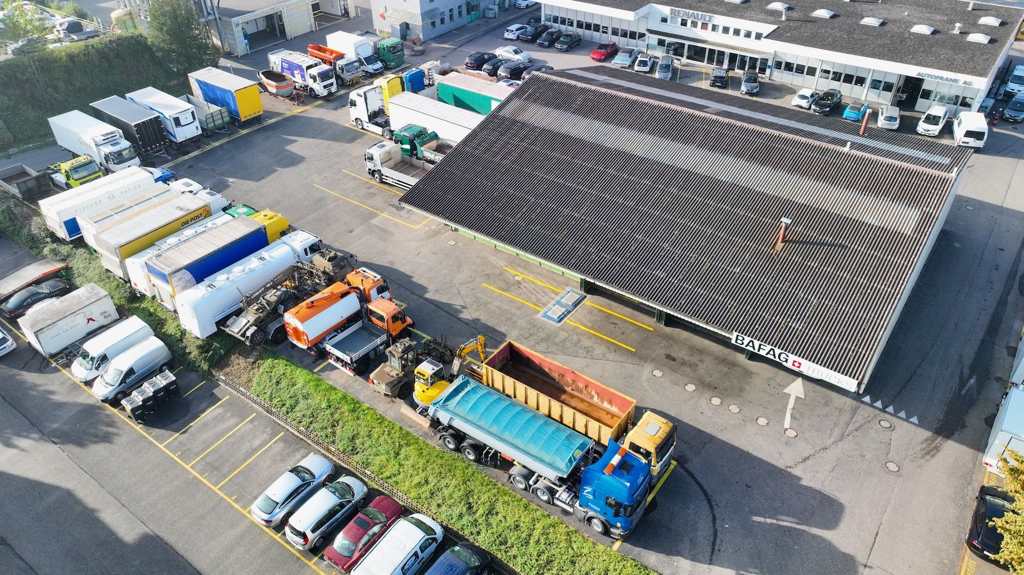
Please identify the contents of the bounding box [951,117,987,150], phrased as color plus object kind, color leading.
white van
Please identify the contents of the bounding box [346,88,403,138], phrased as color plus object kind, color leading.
white truck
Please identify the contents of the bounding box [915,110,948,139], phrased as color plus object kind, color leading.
white car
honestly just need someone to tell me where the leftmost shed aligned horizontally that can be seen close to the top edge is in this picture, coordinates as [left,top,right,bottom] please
[186,0,371,57]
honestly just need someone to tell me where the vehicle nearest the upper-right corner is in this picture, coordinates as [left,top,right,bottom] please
[1002,67,1024,97]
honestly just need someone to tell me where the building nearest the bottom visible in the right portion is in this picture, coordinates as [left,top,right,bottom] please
[398,64,972,408]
